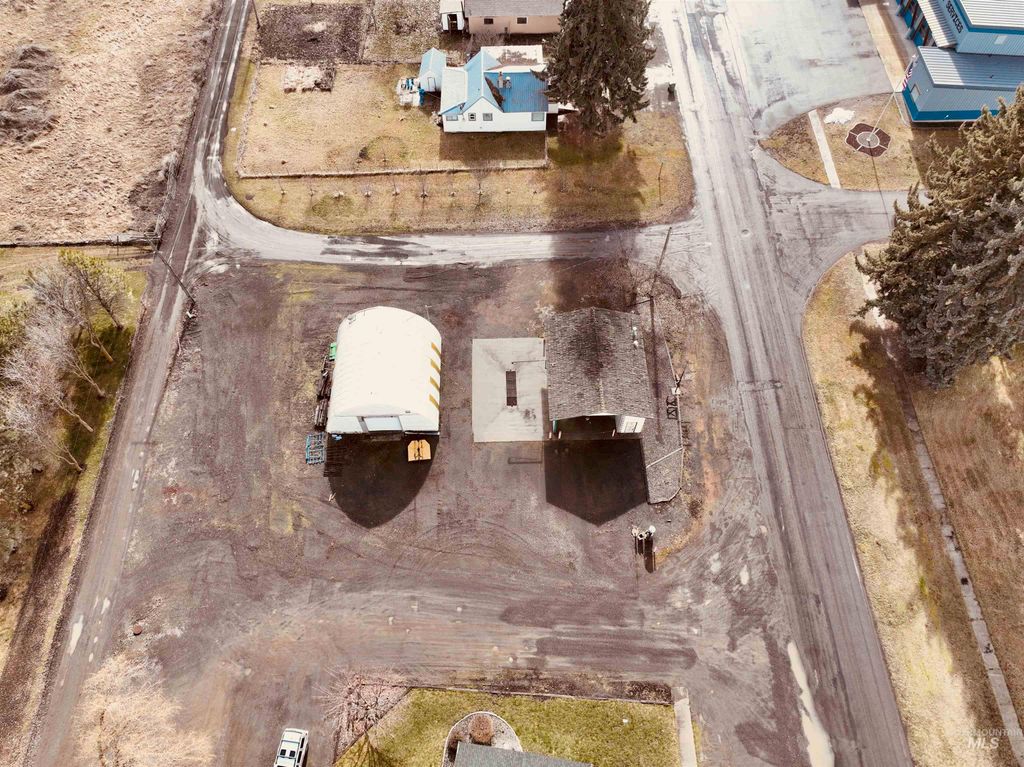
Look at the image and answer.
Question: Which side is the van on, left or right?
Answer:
left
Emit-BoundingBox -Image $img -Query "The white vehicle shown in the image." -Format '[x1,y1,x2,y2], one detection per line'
[277,729,315,767]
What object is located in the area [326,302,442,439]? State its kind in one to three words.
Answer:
shed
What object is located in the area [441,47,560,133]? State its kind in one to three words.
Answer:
house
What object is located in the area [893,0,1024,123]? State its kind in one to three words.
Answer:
building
